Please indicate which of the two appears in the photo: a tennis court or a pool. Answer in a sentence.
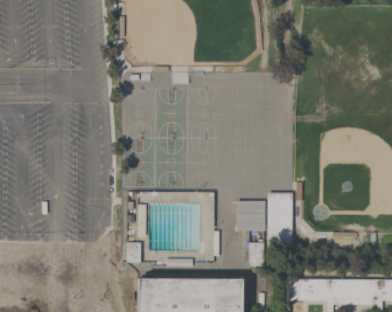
There is a pool in the scene.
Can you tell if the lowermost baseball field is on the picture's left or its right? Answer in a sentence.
The lowermost baseball field is on the right side of the image.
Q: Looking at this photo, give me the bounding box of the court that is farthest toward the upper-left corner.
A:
[124,90,155,138]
